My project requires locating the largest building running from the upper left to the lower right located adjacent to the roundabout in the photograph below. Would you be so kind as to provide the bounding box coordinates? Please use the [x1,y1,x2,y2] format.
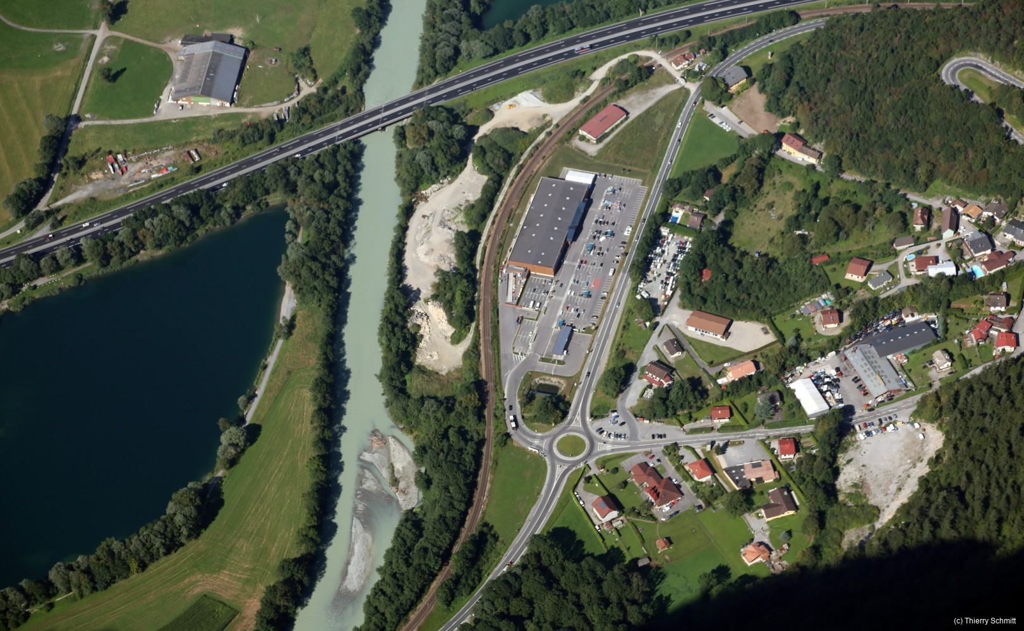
[630,463,682,510]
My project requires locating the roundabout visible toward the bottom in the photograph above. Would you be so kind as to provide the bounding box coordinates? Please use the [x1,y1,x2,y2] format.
[529,406,628,479]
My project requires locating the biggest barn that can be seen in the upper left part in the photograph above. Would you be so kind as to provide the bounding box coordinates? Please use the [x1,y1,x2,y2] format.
[170,43,246,107]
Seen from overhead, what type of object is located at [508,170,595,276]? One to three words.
building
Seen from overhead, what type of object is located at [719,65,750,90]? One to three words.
house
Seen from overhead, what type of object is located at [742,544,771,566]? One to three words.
house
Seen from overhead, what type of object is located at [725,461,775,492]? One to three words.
building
